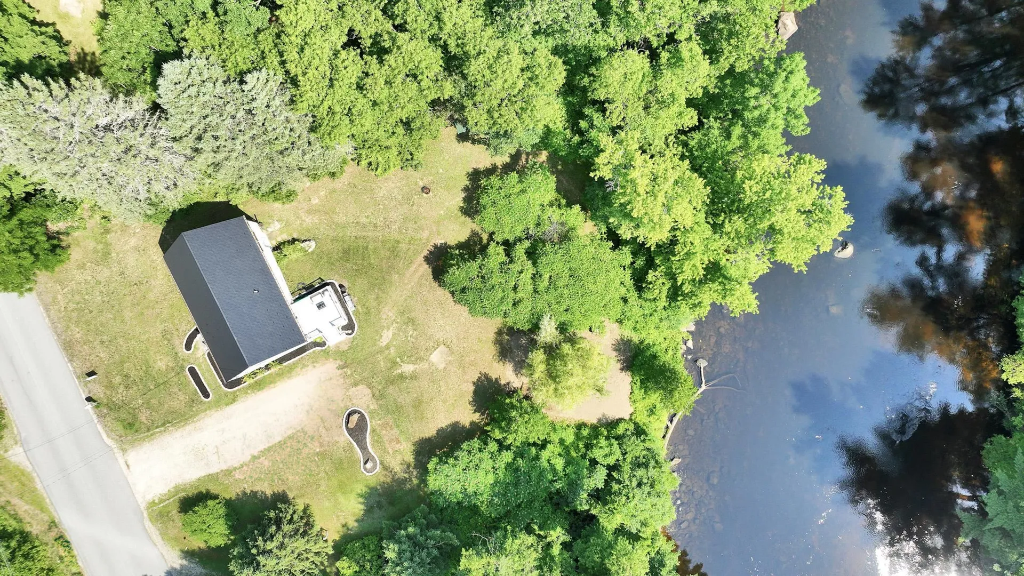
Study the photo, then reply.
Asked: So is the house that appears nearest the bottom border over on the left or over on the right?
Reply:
left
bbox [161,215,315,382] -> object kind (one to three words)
house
